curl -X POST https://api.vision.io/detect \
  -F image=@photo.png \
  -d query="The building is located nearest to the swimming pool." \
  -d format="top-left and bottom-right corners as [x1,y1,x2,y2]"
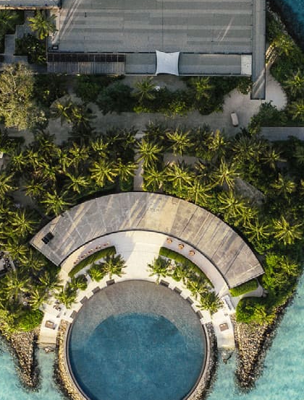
[29,190,264,288]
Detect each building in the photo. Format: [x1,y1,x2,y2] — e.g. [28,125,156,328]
[49,0,267,101]
[29,190,264,288]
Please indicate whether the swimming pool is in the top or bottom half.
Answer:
bottom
